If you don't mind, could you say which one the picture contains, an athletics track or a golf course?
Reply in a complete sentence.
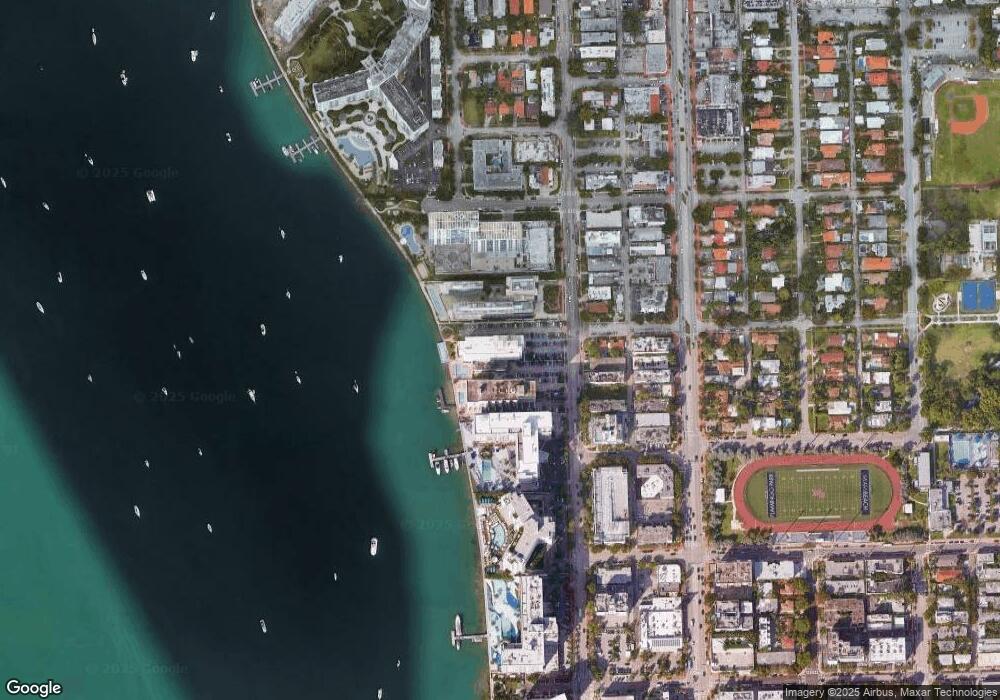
It is an athletics track that can be seen here.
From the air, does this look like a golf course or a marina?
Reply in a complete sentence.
The area seen from above is a marina.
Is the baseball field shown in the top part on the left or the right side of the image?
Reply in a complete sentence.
The baseball field shown in the top part is on the right side of the image.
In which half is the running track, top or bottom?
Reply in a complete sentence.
Seen from above, the running track lies in the bottom half of the view.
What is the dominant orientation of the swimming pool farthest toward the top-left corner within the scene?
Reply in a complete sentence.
The swimming pool farthest toward the top-left corner has been laid out at an angle relative to the frame.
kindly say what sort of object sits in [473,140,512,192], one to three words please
building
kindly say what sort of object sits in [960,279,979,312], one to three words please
sports court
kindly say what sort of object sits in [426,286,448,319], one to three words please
swimming pool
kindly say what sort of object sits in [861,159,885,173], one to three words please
house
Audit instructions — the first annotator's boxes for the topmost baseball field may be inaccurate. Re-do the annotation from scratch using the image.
[933,81,1000,187]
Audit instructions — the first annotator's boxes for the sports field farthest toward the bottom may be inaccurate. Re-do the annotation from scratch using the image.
[745,464,893,520]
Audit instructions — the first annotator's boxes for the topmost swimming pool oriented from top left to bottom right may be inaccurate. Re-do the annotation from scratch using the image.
[336,135,376,168]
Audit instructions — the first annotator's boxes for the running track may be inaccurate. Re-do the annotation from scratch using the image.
[734,453,904,532]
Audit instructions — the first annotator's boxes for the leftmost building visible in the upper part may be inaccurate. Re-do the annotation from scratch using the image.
[275,0,325,50]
